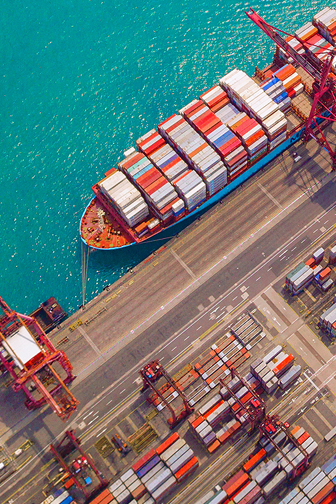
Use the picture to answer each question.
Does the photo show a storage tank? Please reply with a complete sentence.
No, there is no storage tank in the image.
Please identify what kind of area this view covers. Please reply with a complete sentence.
The picture captures a port.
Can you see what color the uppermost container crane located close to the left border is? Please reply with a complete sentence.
From above, the uppermost container crane located close to the left border appears red.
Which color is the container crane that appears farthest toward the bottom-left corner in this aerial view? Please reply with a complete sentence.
The color of the container crane that appears farthest toward the bottom-left corner is red.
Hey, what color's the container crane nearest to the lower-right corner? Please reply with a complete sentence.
In this view, the container crane nearest to the lower-right corner is red.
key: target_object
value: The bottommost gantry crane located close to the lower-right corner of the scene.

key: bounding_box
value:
[253,413,312,486]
